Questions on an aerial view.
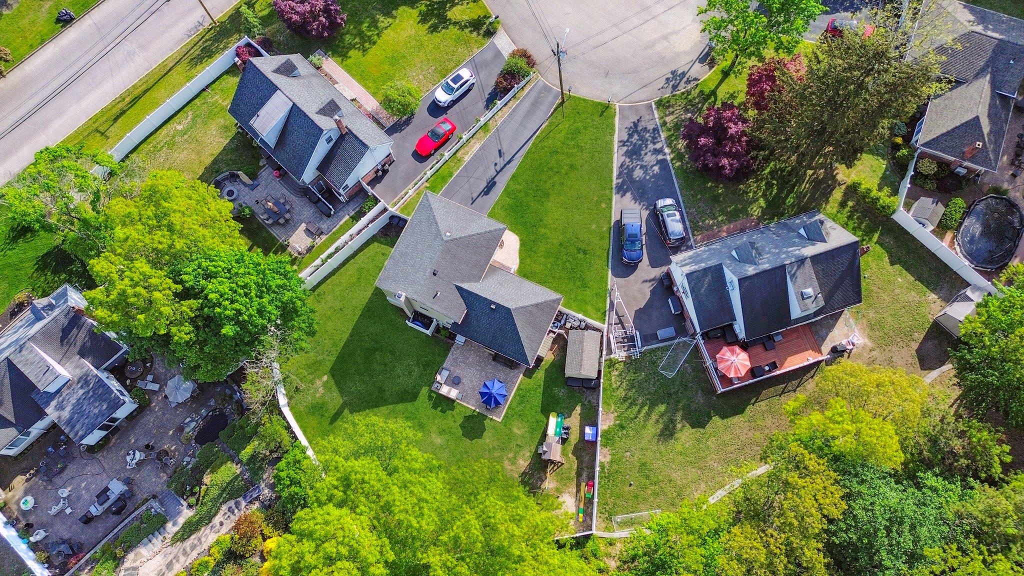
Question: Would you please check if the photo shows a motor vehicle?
Yes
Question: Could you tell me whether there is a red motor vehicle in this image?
Yes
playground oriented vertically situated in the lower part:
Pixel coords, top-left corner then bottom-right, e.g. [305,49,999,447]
[575,387,600,533]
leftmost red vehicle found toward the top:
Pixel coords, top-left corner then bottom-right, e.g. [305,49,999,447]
[415,116,460,156]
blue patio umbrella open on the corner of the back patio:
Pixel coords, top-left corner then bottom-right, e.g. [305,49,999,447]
[476,377,510,411]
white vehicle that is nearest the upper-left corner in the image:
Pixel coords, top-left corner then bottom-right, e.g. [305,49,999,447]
[432,64,478,109]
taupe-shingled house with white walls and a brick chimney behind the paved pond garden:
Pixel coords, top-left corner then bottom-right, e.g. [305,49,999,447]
[0,284,141,455]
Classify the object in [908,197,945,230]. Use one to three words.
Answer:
shed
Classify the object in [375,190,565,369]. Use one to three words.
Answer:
house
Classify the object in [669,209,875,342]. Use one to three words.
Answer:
house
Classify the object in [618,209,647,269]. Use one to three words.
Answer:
truck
